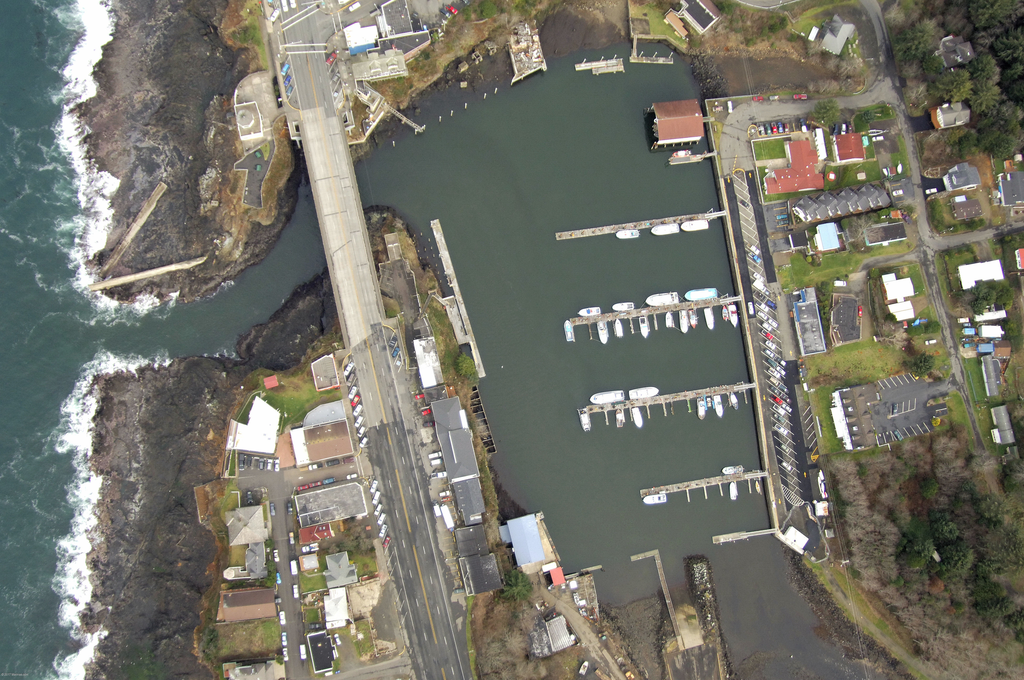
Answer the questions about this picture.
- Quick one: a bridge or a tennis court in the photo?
bridge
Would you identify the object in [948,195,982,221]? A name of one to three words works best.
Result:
house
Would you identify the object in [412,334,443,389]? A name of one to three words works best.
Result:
building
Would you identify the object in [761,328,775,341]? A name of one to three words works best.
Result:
vehicle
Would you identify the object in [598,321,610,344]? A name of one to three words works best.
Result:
boat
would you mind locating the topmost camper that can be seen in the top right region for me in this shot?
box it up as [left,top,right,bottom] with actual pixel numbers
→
[806,24,820,43]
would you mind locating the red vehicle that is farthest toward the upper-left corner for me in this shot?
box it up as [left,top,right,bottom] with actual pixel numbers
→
[325,51,338,66]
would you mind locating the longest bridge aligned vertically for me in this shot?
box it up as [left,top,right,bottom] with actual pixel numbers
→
[287,106,387,348]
